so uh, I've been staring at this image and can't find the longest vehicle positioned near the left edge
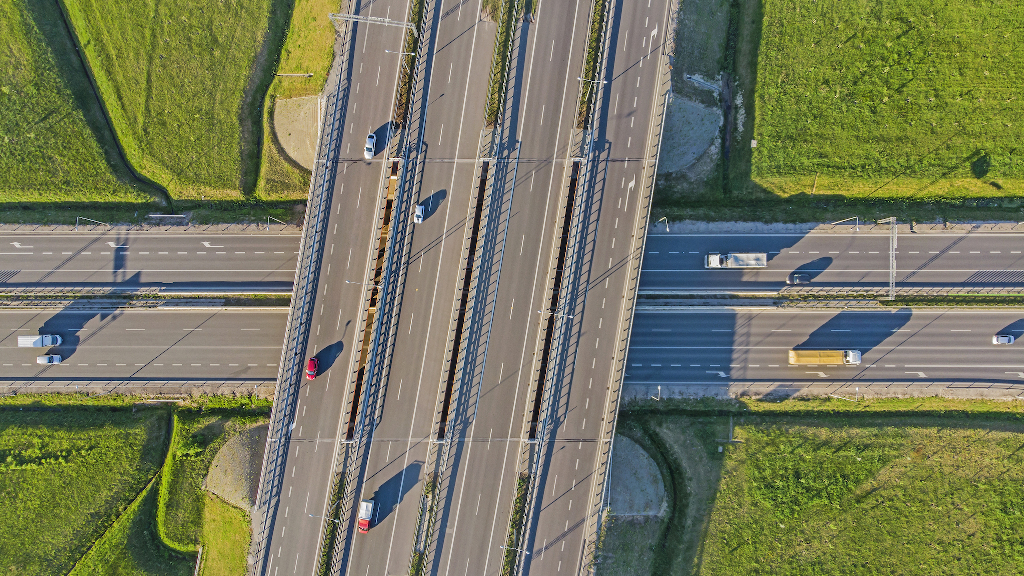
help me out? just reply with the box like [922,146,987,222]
[17,335,63,347]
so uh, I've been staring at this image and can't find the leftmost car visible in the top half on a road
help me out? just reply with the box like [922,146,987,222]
[365,134,377,159]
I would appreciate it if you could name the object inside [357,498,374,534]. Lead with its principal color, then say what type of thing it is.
white vehicle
